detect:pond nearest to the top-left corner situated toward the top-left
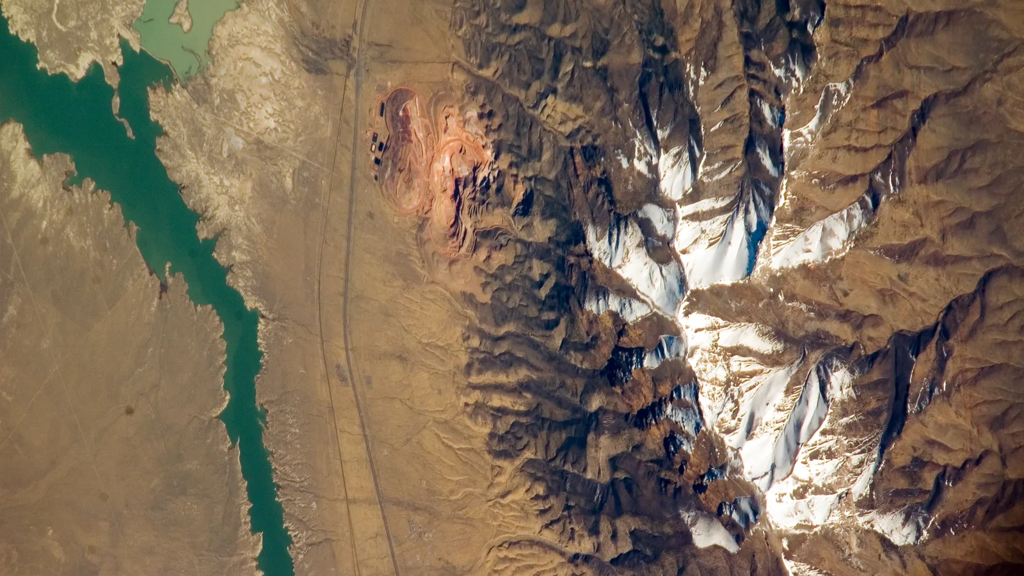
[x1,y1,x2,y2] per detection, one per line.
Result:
[136,0,245,87]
